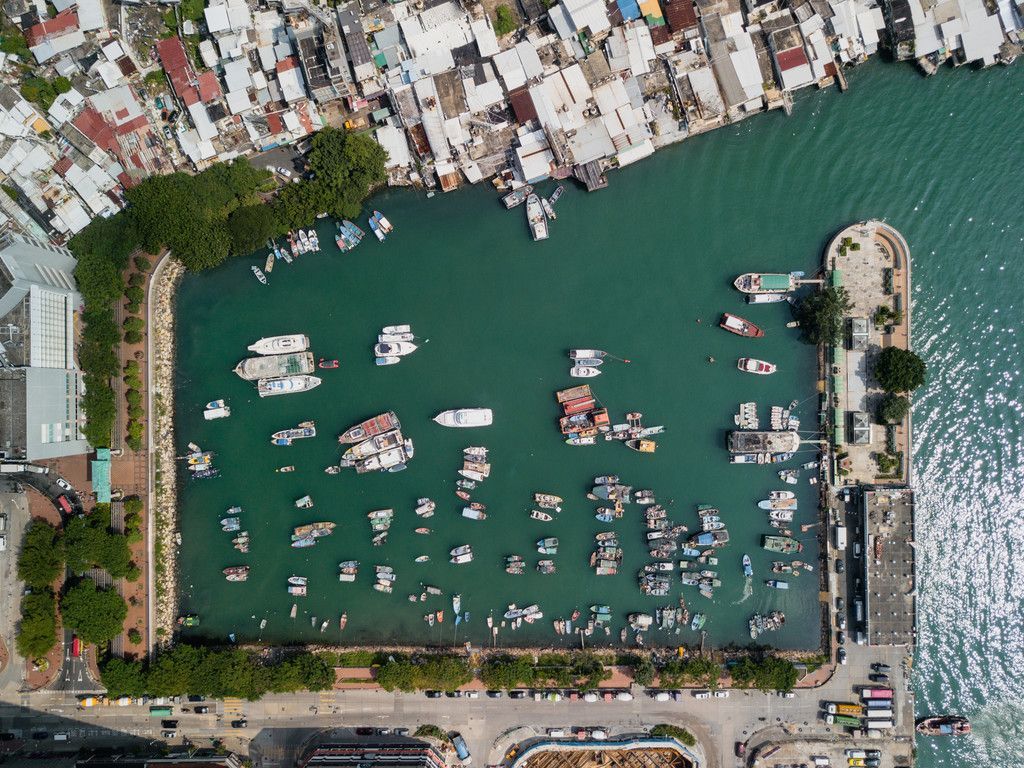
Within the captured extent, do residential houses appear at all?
Yes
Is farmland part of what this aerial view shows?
No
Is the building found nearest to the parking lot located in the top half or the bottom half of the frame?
bottom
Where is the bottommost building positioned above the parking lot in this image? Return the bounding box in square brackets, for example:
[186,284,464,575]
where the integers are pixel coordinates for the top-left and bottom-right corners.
[860,488,914,646]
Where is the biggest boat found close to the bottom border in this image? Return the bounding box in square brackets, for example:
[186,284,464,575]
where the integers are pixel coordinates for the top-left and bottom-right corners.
[917,716,972,734]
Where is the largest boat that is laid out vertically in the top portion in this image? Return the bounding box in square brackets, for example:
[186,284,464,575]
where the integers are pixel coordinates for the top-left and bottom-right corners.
[526,194,552,243]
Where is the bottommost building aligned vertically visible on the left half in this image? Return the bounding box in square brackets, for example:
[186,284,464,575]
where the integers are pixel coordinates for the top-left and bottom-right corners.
[94,448,121,503]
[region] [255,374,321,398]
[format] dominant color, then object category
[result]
white boat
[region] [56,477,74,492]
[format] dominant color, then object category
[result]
white car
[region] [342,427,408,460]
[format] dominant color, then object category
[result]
white boat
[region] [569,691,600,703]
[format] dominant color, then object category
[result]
white vehicle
